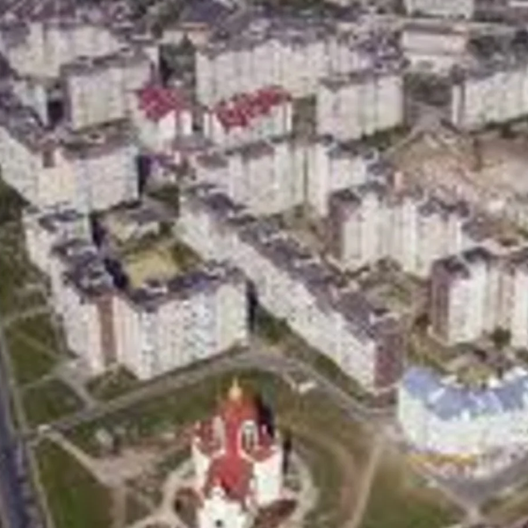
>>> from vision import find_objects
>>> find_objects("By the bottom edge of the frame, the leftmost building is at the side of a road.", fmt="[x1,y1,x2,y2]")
[185,372,287,528]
